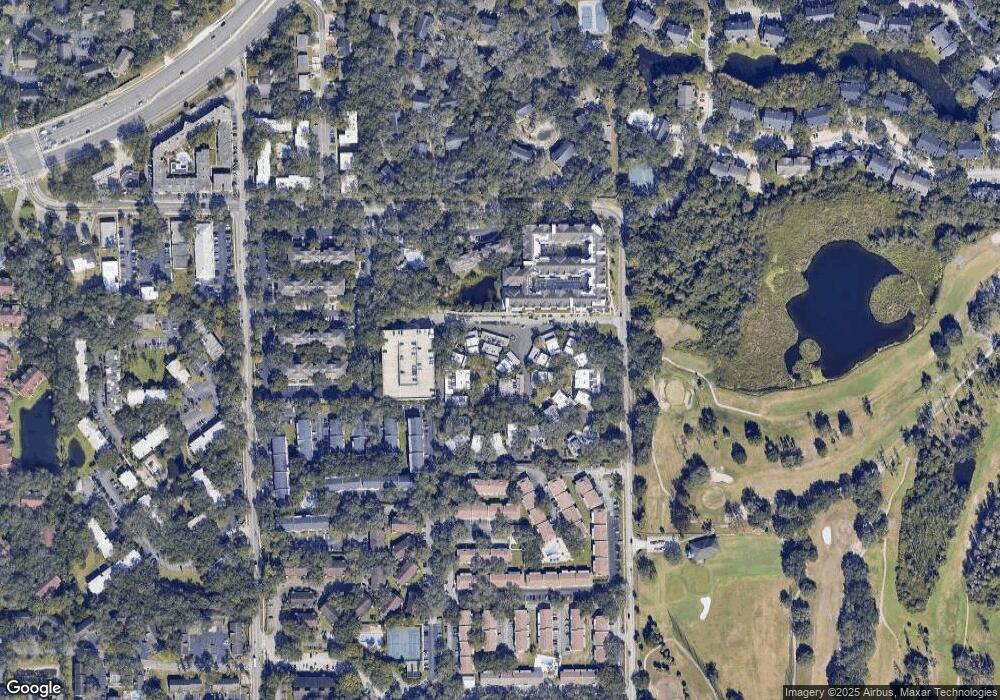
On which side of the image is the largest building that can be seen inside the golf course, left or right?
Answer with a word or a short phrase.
right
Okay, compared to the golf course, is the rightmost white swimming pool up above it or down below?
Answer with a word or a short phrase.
above it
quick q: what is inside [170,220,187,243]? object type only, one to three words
building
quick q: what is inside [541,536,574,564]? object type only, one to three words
swimming pool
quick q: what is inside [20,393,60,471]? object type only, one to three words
pond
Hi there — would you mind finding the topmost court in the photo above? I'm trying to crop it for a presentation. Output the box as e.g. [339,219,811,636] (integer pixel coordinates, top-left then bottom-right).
[579,0,608,33]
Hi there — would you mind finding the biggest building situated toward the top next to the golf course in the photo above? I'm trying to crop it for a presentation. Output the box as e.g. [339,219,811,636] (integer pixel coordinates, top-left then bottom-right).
[502,223,607,313]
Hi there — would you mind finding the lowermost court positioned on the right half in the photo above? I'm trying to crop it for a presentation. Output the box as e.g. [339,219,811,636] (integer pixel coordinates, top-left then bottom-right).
[629,168,653,186]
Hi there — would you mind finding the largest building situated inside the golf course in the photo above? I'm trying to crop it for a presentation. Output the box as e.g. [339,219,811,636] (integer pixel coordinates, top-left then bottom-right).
[688,535,724,562]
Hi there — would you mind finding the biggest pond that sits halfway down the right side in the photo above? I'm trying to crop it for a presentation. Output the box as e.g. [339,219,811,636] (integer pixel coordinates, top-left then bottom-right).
[785,240,915,380]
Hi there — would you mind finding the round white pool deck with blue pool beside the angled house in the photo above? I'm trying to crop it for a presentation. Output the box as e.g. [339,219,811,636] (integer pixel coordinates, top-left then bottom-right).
[628,108,654,134]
